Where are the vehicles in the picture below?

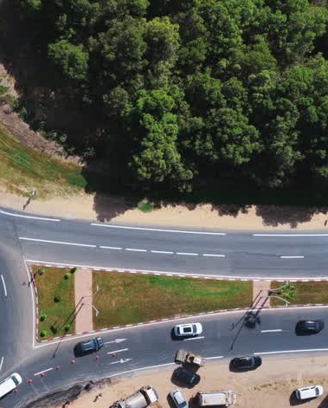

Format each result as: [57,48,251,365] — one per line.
[293,384,323,400]
[0,372,22,398]
[172,323,201,338]
[296,320,323,332]
[172,350,205,366]
[229,356,260,371]
[170,367,200,383]
[75,337,104,355]
[168,389,187,408]
[111,385,161,408]
[199,389,236,406]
